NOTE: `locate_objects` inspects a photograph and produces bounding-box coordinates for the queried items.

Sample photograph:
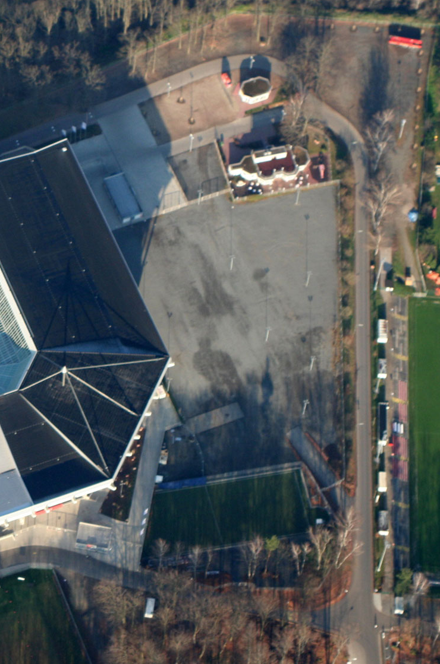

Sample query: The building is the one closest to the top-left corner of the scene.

[103,173,143,223]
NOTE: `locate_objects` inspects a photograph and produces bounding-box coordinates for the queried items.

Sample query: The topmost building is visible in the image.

[239,76,272,105]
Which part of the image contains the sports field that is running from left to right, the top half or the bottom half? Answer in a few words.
bottom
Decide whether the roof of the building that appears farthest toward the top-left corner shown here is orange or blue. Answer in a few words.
blue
